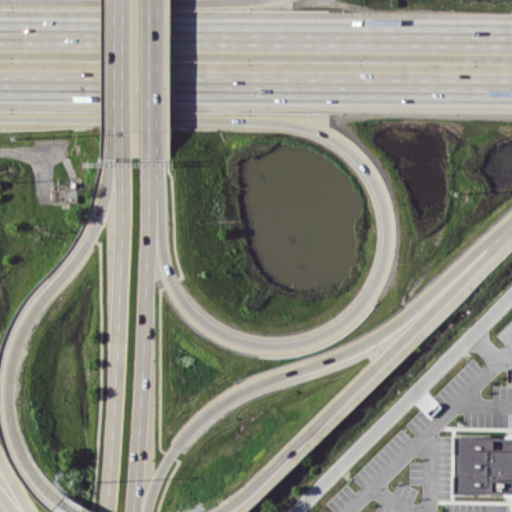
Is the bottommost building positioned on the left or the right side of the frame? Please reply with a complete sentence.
The bottommost building appears in the right half of the scene.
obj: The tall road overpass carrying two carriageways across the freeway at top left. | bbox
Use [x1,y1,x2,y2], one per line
[101,0,170,159]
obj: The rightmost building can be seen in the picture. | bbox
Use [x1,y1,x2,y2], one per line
[455,434,512,500]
